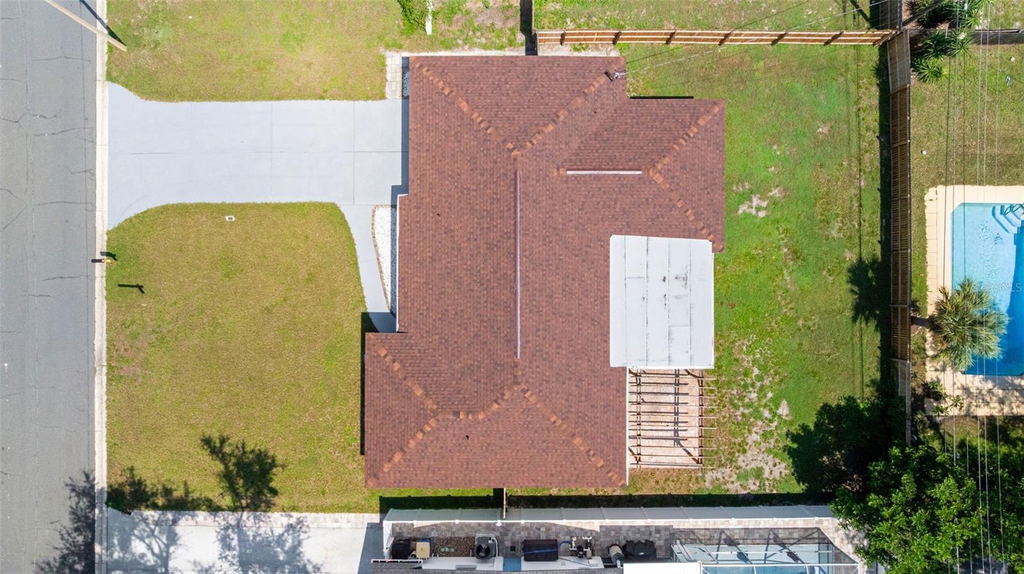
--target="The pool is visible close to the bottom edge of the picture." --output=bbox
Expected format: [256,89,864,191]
[676,543,838,574]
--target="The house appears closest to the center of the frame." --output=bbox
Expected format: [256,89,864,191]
[364,55,726,489]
